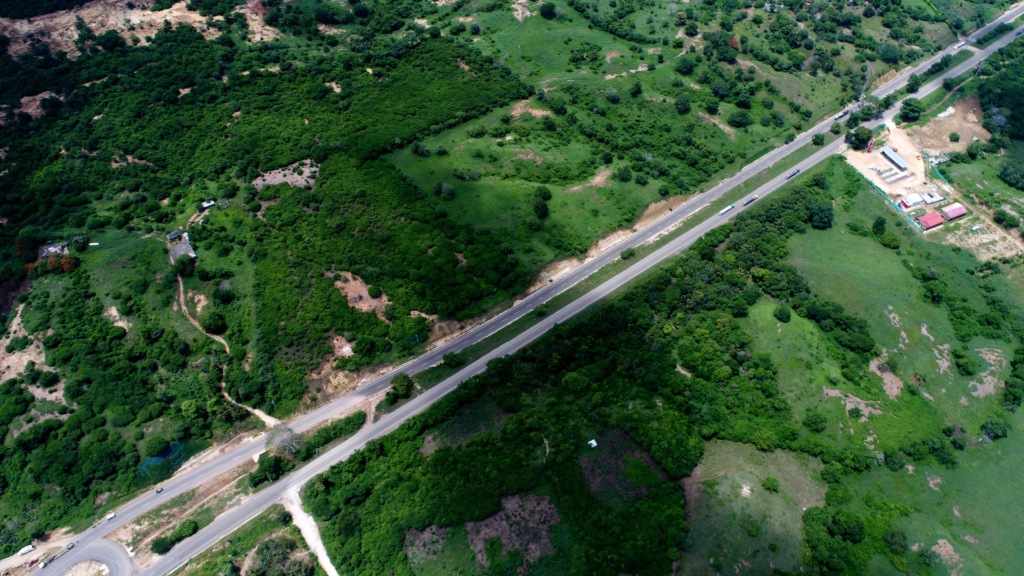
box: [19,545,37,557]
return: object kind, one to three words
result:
vehicle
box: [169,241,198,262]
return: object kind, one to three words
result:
house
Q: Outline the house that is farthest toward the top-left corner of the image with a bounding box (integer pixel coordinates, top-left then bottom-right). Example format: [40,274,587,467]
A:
[39,242,71,261]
